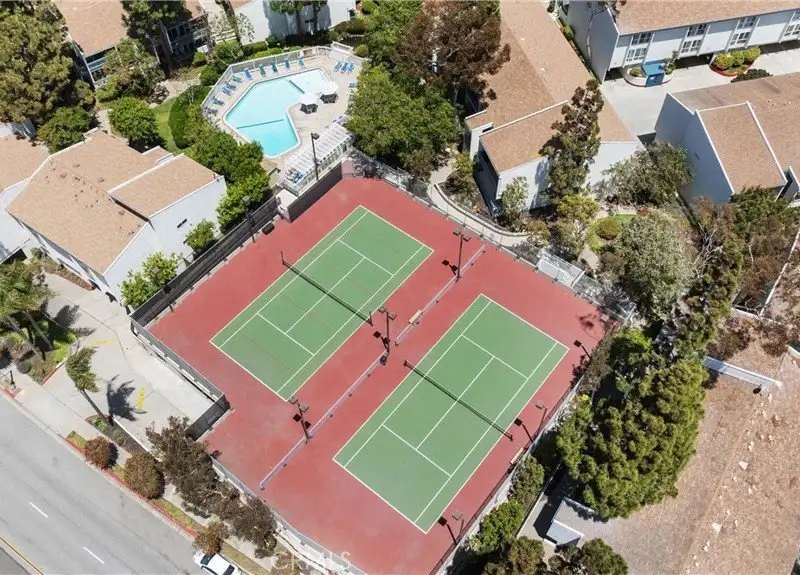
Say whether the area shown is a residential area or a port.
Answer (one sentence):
This looks like a residential area.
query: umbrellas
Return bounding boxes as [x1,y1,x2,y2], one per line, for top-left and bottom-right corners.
[297,88,317,104]
[316,79,339,94]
